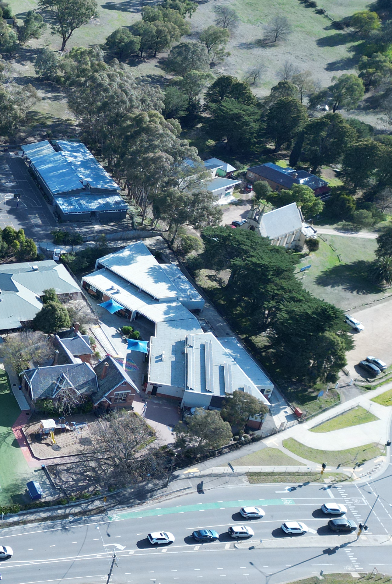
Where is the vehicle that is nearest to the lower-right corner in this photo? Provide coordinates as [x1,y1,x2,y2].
[327,518,357,532]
